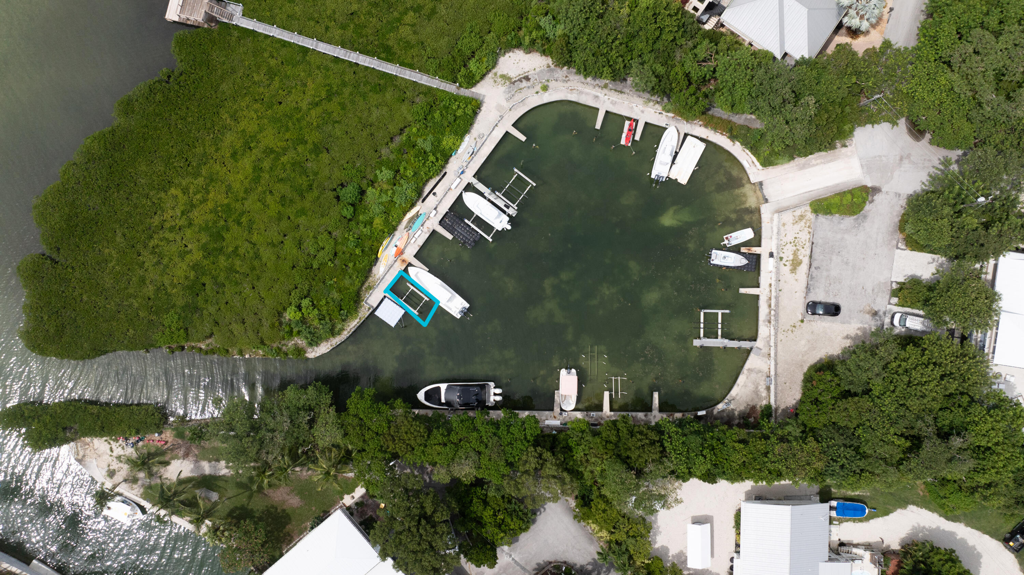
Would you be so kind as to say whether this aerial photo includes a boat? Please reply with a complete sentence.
Yes, a boat can be made out from above.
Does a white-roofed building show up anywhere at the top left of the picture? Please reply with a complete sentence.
No, I see no white-roofed building at the top left of the picture.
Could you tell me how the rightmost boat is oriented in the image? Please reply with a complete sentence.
Seen from above, the rightmost boat lies from side to side.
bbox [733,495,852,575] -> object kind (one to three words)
house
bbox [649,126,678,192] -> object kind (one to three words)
boat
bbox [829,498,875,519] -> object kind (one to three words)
boat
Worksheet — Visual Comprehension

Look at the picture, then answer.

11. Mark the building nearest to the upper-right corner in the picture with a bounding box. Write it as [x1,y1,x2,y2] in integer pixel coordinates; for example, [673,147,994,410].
[718,0,849,69]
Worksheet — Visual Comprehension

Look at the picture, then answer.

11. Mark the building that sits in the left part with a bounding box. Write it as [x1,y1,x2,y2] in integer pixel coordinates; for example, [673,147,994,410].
[260,505,402,575]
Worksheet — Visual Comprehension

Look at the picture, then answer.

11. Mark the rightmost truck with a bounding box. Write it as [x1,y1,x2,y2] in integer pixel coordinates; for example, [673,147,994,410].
[1001,511,1024,555]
